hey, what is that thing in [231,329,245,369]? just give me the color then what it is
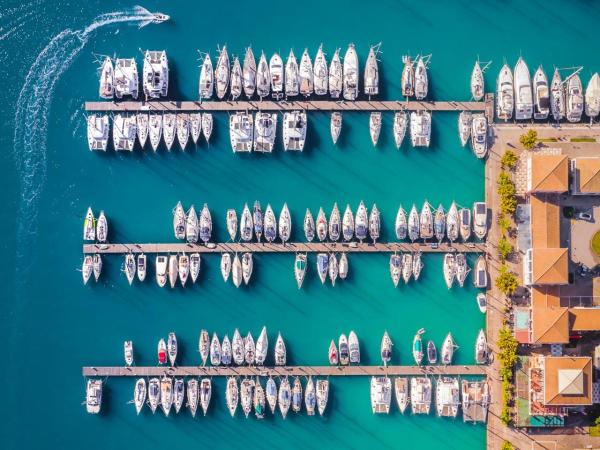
white boat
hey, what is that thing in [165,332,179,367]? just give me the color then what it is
white boat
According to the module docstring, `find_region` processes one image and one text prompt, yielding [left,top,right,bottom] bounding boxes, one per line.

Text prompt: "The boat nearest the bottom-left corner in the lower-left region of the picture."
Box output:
[87,374,104,414]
